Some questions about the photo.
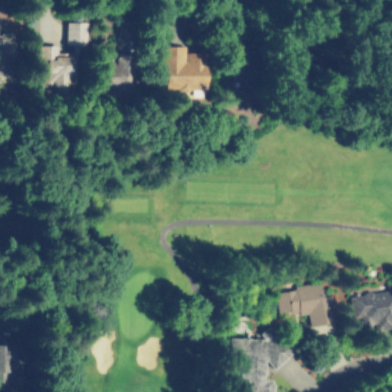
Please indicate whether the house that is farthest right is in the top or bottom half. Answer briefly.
bottom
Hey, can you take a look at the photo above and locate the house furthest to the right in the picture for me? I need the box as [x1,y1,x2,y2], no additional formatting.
[354,293,392,330]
